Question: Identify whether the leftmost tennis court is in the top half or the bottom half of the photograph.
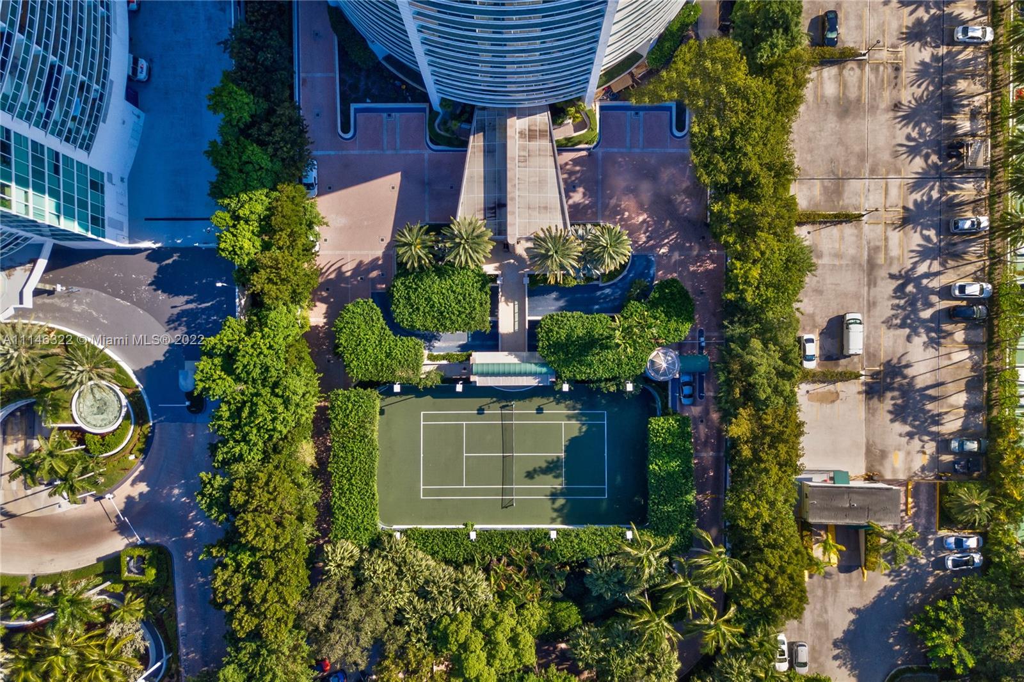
bottom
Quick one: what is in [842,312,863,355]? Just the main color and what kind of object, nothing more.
white vehicle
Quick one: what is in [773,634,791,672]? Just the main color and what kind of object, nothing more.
white car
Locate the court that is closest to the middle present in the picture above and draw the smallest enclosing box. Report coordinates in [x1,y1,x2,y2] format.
[381,383,658,524]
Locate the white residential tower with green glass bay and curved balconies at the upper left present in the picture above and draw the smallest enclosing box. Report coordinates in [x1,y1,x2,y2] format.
[0,0,143,246]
